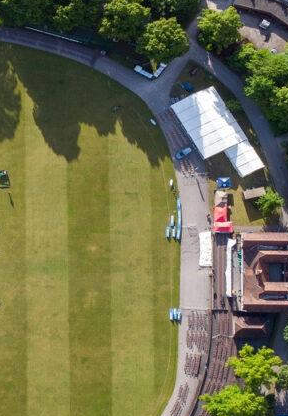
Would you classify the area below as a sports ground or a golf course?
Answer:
sports ground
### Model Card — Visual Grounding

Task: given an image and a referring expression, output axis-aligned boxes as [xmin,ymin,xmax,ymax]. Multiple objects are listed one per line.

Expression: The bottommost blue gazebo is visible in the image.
[216,177,230,189]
